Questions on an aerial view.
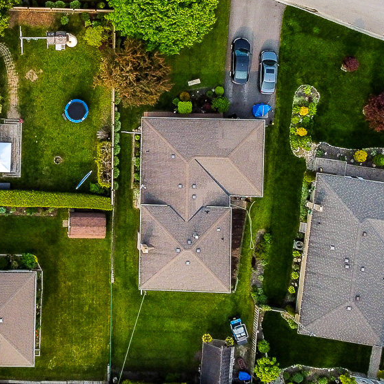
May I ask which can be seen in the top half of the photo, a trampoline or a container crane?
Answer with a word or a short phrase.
trampoline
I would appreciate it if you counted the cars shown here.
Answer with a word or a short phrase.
2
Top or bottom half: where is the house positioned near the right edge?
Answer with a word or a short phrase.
bottom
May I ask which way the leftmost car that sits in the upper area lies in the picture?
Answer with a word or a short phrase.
up and down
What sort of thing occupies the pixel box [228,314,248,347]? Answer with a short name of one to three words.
work vehicle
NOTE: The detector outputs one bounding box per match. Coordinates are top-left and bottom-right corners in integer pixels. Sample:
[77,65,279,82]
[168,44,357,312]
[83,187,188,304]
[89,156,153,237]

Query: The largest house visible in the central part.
[120,116,266,294]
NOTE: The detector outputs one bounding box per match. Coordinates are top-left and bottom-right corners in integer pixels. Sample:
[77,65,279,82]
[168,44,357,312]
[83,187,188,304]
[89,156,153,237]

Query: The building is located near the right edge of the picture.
[290,173,384,348]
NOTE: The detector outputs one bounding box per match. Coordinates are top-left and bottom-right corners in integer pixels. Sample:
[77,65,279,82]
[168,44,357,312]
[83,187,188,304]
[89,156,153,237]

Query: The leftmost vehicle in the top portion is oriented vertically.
[228,37,251,85]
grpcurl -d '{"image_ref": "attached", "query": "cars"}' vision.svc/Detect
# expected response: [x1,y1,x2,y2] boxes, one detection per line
[228,37,251,85]
[256,50,278,94]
